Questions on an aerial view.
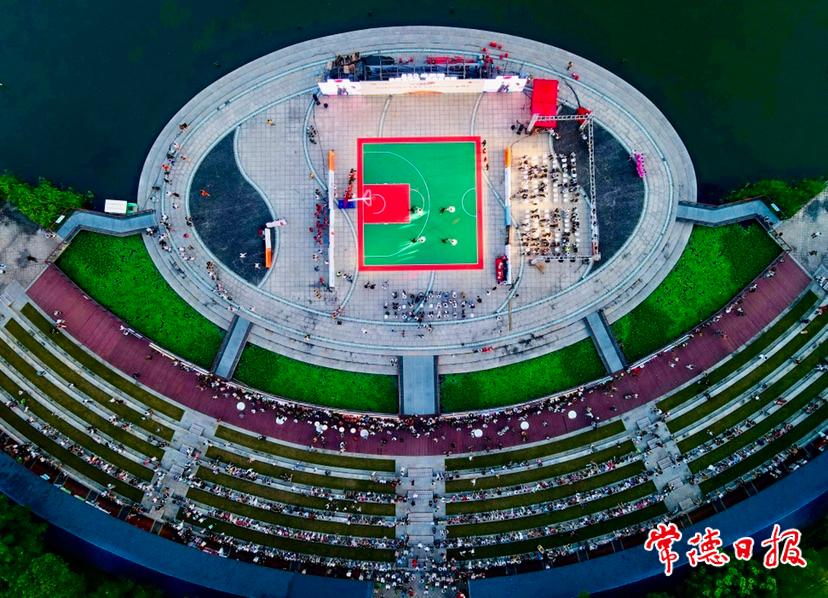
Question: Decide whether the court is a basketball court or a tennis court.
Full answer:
From above, the court can be identified as a basketball court.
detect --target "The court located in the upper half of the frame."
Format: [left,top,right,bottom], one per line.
[357,137,483,271]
